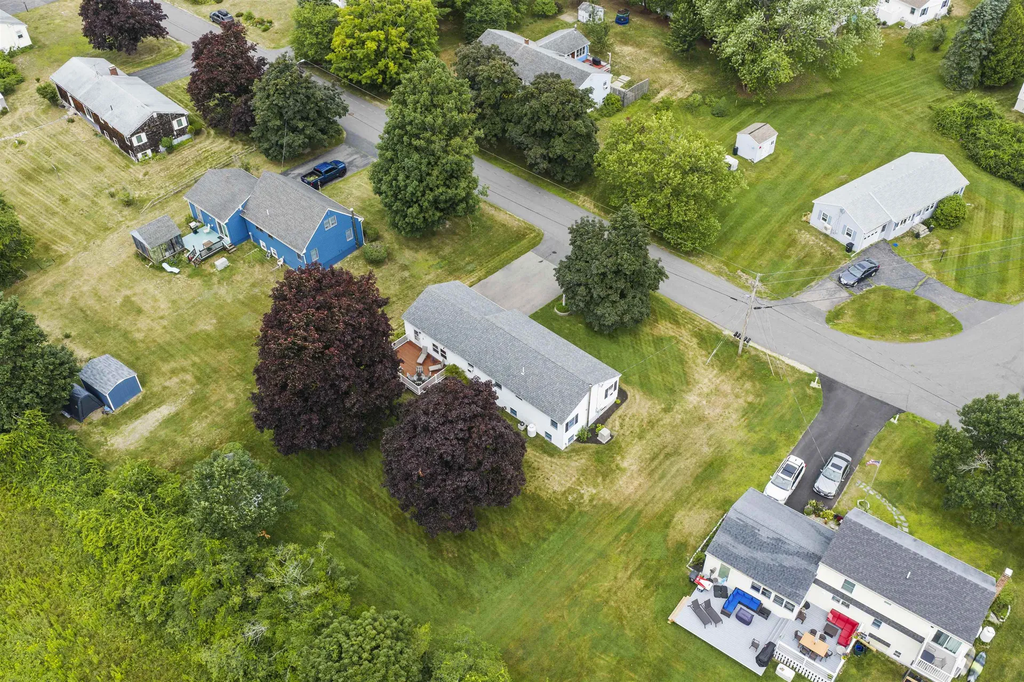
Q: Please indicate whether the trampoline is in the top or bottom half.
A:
top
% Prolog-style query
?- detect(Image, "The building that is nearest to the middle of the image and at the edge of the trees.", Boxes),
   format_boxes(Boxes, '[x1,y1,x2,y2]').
[374,279,624,450]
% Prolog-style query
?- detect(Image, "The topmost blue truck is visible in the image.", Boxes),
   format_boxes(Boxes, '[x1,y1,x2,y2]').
[299,160,347,187]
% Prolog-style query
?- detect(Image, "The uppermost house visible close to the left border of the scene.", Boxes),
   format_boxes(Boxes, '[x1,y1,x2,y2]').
[0,4,33,54]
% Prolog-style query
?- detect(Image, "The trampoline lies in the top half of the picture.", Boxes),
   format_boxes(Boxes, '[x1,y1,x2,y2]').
[612,4,634,27]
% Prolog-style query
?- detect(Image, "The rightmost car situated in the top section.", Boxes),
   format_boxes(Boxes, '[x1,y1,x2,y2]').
[838,258,882,286]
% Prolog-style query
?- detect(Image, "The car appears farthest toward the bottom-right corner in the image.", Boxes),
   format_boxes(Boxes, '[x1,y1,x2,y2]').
[815,449,856,499]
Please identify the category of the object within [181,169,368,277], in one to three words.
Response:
house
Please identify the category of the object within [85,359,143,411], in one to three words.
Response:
shed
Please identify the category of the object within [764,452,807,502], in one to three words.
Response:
car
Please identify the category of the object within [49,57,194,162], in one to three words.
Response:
house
